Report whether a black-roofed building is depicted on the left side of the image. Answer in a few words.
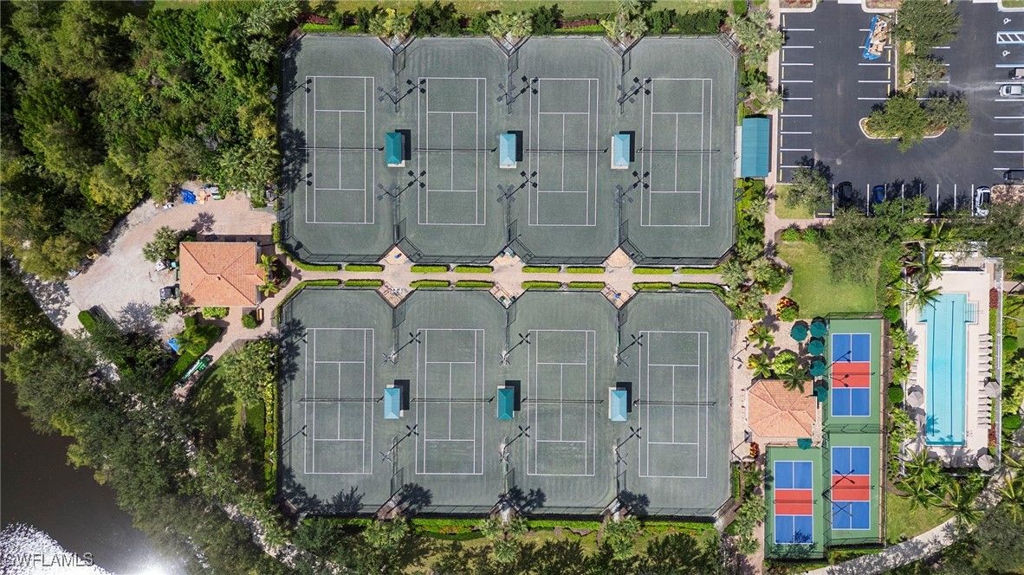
No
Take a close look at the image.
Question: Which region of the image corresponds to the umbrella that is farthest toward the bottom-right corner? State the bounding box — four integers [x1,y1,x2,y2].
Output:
[973,454,993,472]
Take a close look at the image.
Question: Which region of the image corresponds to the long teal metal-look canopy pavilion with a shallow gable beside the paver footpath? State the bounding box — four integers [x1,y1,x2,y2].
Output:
[737,117,769,178]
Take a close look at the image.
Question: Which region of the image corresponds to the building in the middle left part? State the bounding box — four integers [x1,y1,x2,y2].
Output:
[179,242,268,306]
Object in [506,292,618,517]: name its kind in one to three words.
tennis court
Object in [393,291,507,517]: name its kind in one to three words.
tennis court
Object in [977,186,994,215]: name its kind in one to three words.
car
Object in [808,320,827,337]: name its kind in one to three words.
umbrella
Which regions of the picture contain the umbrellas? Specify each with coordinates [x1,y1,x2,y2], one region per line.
[978,380,998,397]
[796,437,812,451]
[806,338,824,356]
[790,323,808,341]
[905,390,924,408]
[808,320,827,337]
[808,359,825,376]
[813,385,829,403]
[973,454,993,472]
